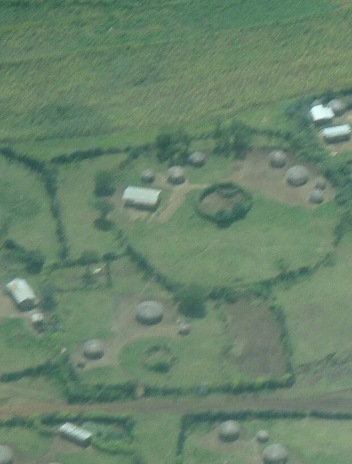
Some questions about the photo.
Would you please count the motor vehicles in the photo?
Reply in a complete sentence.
The photo contains no motor vehicles.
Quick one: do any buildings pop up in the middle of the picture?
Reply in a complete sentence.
Yes, looking in the middle of the picture, one can make out a building.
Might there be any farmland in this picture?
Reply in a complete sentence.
Yes, there is farmland in the image.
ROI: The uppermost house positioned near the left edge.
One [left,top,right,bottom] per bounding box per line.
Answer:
[5,278,36,311]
